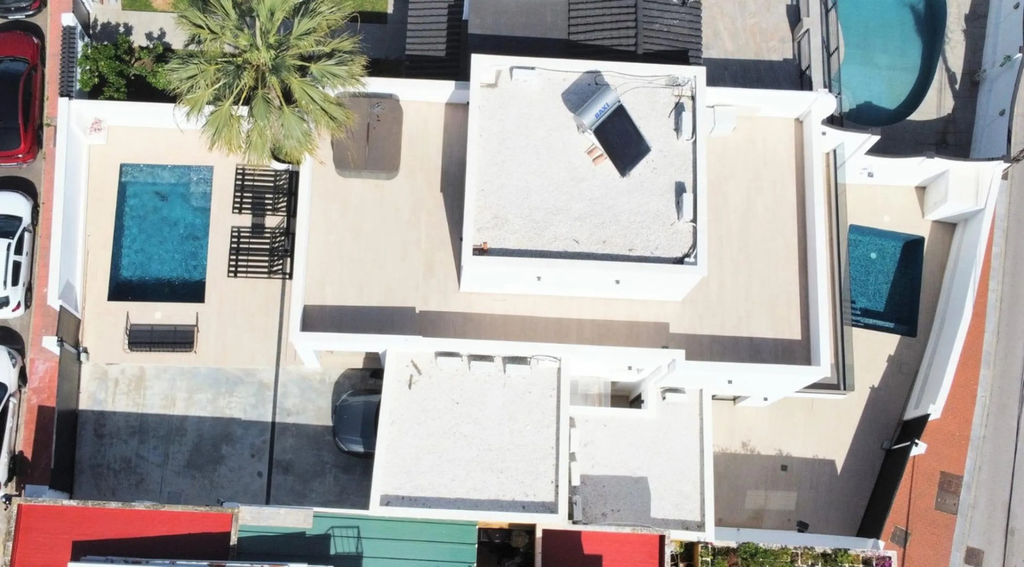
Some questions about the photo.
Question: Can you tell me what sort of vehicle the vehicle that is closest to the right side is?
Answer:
automobile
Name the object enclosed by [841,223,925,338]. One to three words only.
swimming pool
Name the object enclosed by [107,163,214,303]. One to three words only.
swimming pool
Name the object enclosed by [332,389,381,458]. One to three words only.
car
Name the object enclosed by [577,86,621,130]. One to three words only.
storage tank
